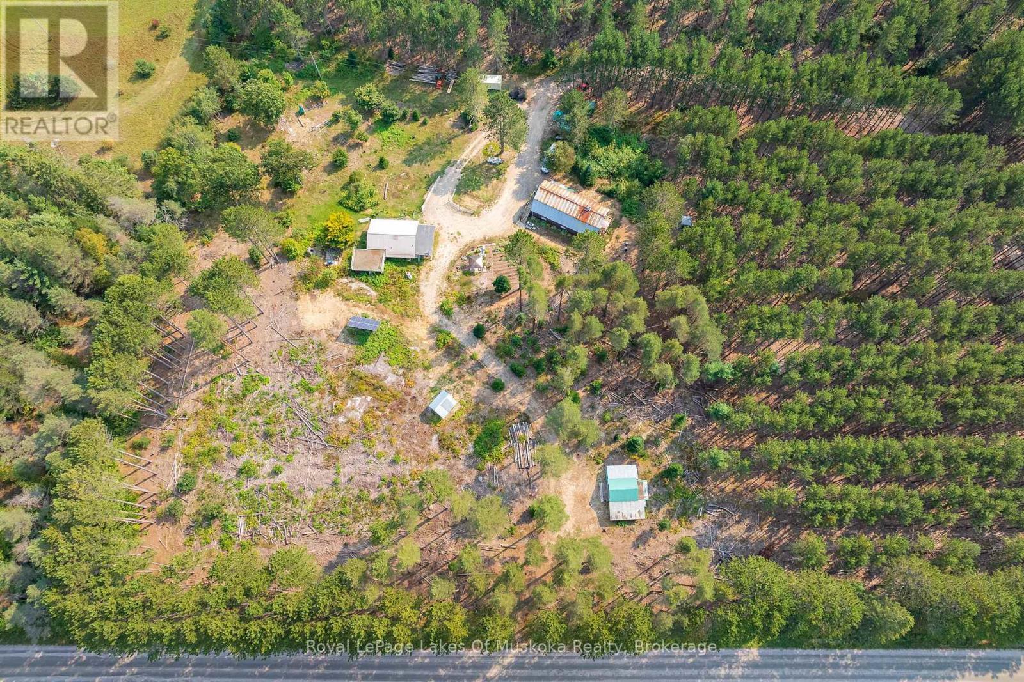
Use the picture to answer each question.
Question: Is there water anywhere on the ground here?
No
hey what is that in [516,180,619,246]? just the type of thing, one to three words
barn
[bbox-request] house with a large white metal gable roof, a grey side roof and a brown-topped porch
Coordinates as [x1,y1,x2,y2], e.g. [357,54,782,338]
[350,219,435,276]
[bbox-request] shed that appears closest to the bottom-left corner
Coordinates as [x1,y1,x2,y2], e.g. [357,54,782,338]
[429,391,457,420]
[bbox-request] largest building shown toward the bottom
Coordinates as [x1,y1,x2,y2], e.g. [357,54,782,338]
[605,465,647,522]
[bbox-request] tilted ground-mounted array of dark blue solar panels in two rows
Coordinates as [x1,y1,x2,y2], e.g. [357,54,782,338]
[347,316,380,334]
